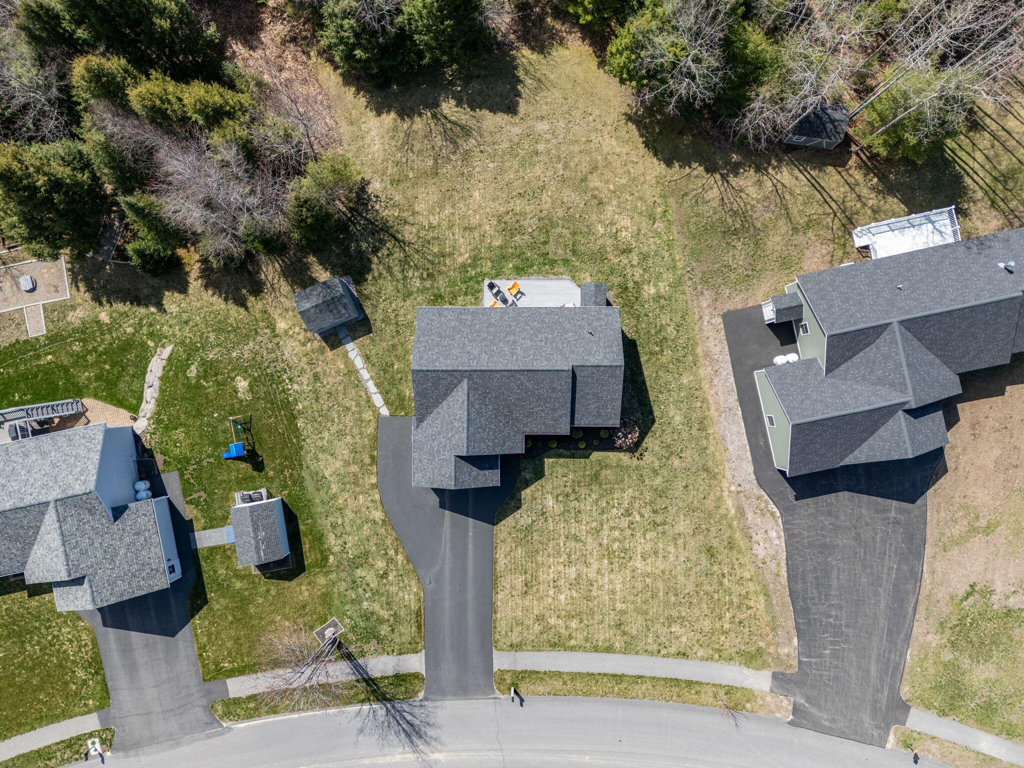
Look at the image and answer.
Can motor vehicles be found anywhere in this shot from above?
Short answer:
No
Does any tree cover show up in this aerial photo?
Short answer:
Yes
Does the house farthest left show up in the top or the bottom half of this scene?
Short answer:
bottom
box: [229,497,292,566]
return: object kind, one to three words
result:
shed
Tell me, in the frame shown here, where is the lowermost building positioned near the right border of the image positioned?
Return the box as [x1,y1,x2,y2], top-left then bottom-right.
[755,228,1024,478]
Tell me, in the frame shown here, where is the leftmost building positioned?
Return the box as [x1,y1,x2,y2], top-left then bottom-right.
[0,421,185,611]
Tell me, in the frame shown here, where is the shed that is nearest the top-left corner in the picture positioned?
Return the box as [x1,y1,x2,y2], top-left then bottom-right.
[294,277,358,332]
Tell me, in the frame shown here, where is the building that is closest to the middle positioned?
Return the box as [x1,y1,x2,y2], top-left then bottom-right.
[412,283,624,489]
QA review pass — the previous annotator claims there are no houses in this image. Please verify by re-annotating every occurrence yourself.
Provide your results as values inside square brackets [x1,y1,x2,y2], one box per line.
[0,421,185,611]
[412,283,624,489]
[755,228,1024,478]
